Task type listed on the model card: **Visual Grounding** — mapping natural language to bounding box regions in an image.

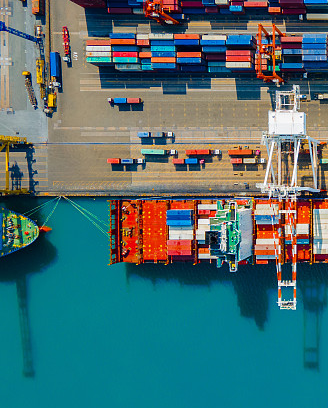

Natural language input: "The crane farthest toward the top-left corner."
[0,27,45,84]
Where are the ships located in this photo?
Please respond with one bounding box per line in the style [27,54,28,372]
[0,206,52,257]
[109,196,328,274]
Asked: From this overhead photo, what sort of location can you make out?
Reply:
port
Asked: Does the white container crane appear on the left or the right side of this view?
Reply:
right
